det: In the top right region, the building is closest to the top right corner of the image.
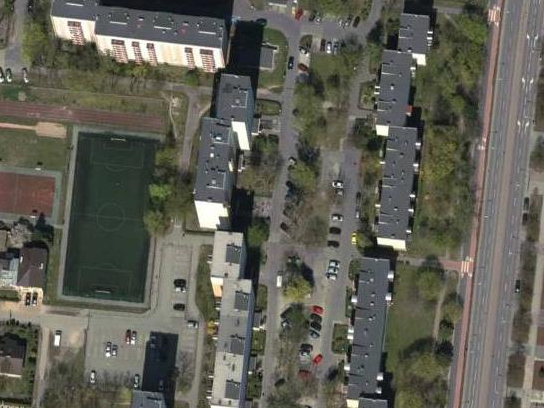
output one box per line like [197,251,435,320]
[398,13,433,65]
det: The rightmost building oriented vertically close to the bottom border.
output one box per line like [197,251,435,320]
[345,258,395,408]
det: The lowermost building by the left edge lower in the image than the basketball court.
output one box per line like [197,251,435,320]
[0,338,27,378]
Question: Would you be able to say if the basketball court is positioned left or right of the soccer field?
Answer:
to the left of it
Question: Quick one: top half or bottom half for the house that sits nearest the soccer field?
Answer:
bottom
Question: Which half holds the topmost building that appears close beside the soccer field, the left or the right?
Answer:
left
